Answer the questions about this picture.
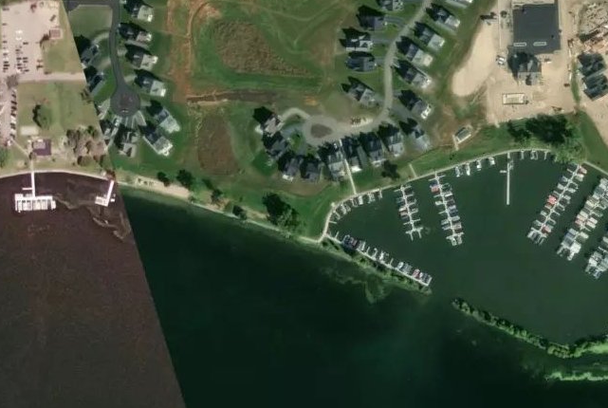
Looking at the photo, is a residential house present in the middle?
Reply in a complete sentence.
Yes, a residential house can be seen in the middle.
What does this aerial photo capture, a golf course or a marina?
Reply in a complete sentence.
This image shows a marina.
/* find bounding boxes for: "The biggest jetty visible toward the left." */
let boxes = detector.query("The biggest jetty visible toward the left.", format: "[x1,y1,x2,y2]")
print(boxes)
[16,173,56,210]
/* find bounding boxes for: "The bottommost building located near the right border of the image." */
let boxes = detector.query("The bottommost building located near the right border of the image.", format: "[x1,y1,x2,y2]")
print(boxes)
[585,73,608,99]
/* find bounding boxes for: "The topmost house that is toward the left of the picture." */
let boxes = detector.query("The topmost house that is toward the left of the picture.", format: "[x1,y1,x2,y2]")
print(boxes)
[124,0,152,21]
